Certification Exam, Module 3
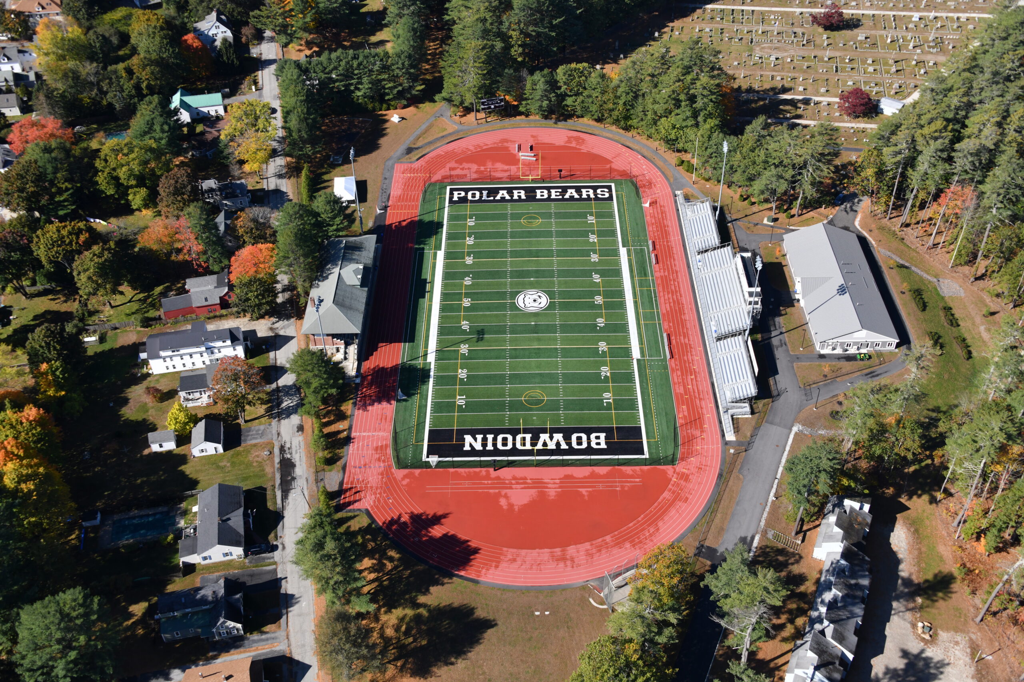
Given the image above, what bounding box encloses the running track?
[332,126,728,592]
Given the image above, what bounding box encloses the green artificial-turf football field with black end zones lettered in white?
[391,178,680,469]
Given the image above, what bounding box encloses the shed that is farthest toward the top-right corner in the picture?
[878,96,907,116]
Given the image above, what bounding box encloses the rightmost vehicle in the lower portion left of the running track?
[247,544,272,557]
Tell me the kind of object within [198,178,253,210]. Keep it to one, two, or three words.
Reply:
house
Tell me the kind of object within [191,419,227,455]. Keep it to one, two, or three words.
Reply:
building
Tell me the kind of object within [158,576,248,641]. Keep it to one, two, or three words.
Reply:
house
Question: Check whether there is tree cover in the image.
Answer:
Yes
